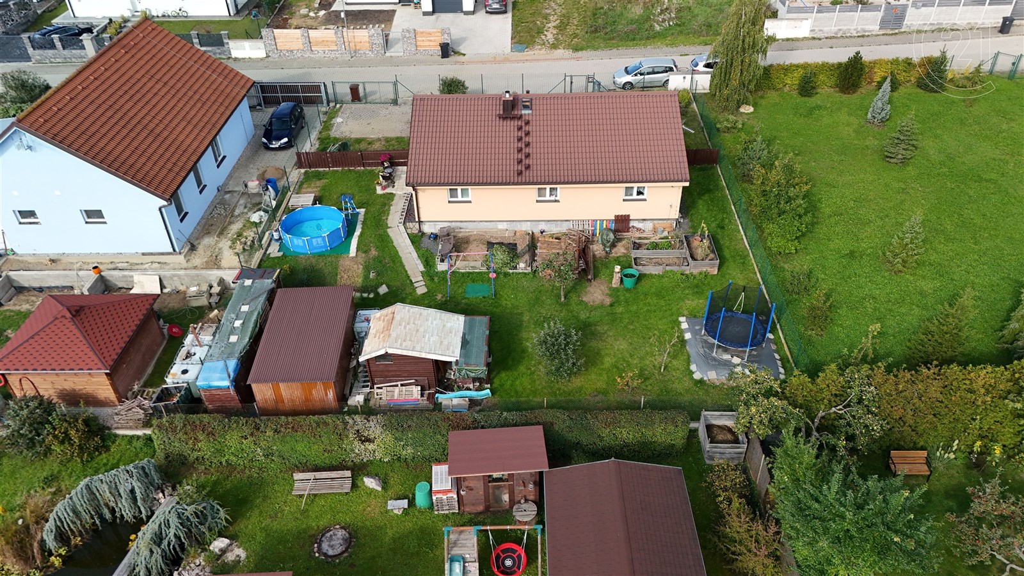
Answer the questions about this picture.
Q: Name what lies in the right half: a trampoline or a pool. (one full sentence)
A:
It is a trampoline that can be seen in the right half.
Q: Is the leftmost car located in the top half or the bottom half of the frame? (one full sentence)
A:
The leftmost car is in the top half of the image.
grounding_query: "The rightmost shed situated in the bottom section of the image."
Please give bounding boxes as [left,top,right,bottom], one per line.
[541,450,709,576]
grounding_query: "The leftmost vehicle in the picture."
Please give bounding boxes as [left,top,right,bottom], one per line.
[26,16,90,38]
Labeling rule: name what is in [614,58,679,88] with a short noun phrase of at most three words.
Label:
car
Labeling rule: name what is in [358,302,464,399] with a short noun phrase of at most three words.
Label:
shed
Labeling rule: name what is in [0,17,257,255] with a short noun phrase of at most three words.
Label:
house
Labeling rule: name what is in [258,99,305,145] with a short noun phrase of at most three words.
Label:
car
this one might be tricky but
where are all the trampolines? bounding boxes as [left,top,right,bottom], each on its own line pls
[700,273,782,362]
